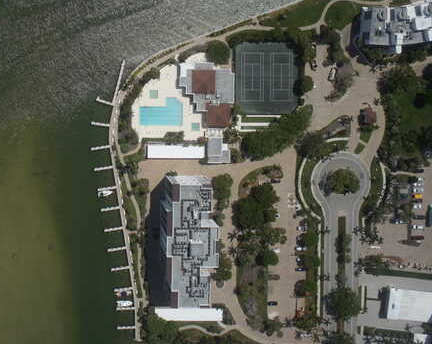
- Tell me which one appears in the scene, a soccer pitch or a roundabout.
roundabout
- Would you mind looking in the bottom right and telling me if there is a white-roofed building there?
Yes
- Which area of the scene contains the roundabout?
right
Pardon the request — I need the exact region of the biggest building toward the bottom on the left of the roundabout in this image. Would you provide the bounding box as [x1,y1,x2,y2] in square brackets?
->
[157,177,218,308]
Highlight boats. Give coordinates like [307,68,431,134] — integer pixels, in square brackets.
[115,301,133,307]
[114,292,132,297]
[96,191,112,197]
